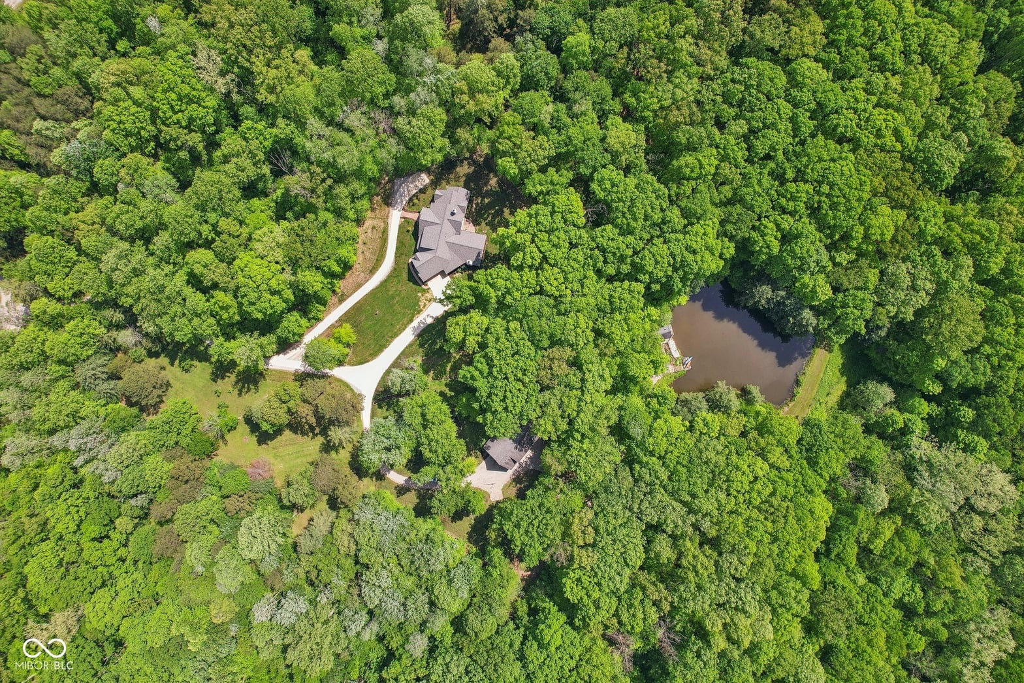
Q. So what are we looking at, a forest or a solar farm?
forest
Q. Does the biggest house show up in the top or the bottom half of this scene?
top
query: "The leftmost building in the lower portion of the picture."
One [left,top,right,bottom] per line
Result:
[486,424,534,470]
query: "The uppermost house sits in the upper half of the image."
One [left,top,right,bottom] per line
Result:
[410,184,488,283]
